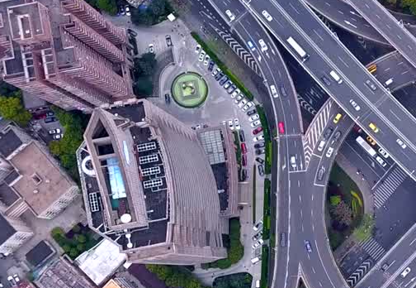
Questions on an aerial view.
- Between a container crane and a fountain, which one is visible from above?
fountain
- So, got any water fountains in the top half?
Yes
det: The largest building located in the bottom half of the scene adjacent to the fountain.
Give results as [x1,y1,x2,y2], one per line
[76,99,217,257]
